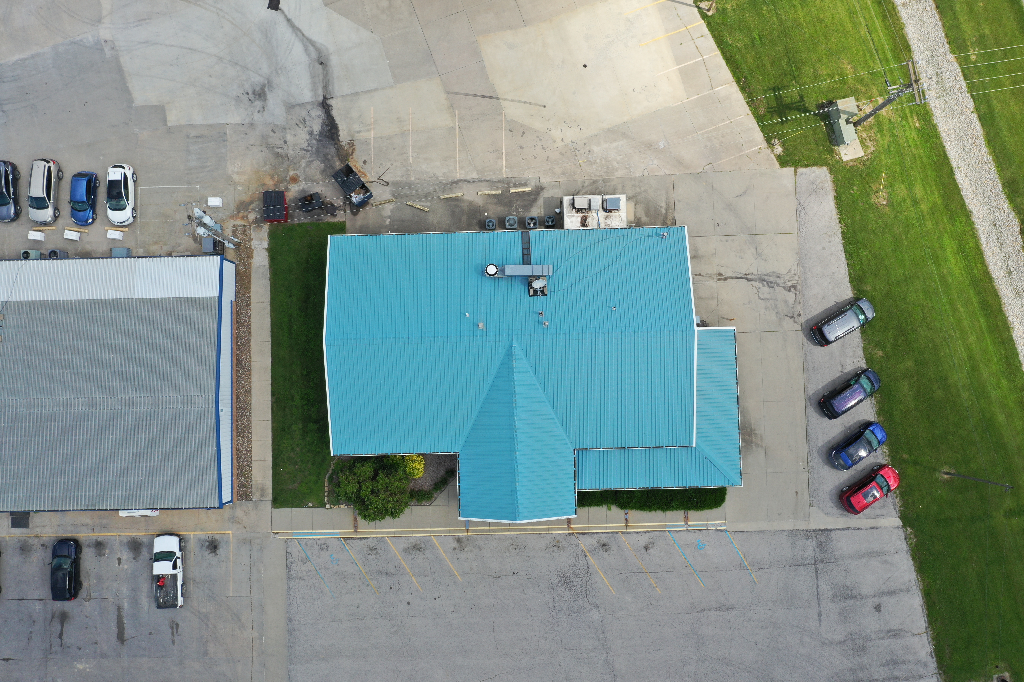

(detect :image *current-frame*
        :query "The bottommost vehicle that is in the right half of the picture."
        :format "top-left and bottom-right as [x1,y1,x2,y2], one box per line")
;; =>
[837,467,899,517]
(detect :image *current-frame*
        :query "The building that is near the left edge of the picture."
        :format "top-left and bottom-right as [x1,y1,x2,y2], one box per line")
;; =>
[0,255,238,513]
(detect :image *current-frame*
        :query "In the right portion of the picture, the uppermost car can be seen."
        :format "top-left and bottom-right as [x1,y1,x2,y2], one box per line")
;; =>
[810,299,874,348]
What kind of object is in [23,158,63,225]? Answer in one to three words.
car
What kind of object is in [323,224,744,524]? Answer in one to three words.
building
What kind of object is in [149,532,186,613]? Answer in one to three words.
truck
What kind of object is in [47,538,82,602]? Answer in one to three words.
car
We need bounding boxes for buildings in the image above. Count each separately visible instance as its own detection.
[0,255,238,513]
[323,224,744,524]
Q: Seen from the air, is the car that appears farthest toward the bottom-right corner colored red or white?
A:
red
